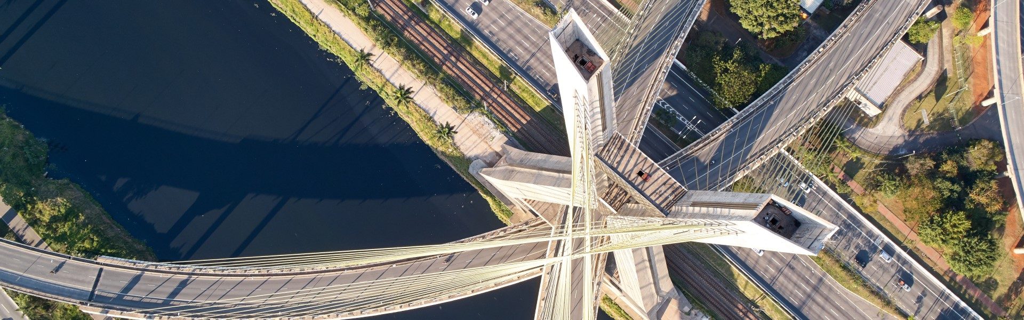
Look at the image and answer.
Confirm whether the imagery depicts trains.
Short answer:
No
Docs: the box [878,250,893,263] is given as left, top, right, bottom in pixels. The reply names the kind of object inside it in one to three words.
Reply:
vehicle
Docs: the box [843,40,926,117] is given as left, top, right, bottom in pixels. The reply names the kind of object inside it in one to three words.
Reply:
shed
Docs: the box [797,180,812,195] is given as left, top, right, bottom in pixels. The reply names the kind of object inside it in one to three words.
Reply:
vehicle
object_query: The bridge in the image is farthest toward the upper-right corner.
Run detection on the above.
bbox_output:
[978,0,1024,255]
